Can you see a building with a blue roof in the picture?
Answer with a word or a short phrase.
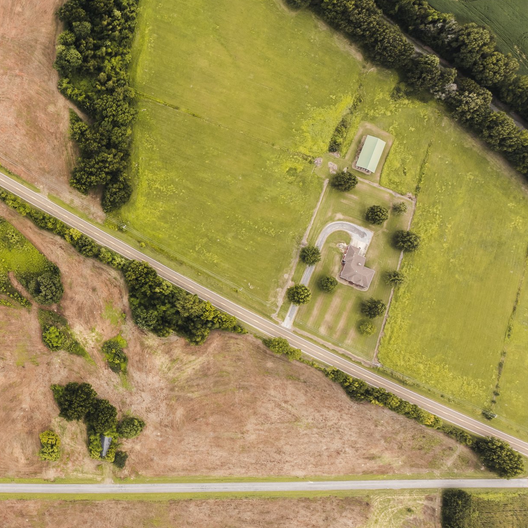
No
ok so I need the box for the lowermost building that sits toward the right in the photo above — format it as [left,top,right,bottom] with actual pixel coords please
[338,245,376,288]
